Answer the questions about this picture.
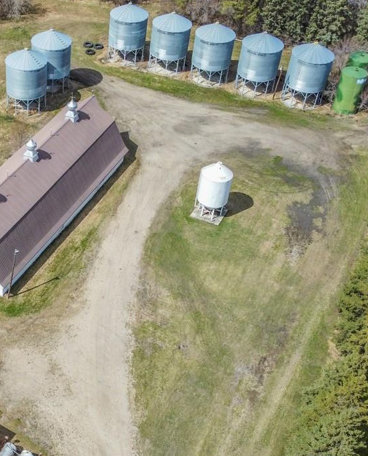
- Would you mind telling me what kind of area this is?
industrial area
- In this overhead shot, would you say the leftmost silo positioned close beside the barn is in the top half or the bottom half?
top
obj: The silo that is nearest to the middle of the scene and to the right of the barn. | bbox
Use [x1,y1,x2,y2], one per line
[197,160,237,219]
